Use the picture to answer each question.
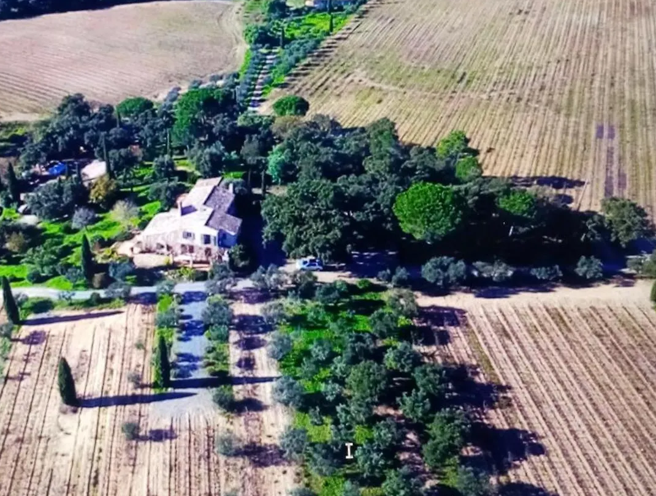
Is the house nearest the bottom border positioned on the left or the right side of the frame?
left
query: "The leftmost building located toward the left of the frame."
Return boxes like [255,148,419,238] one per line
[78,161,108,185]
